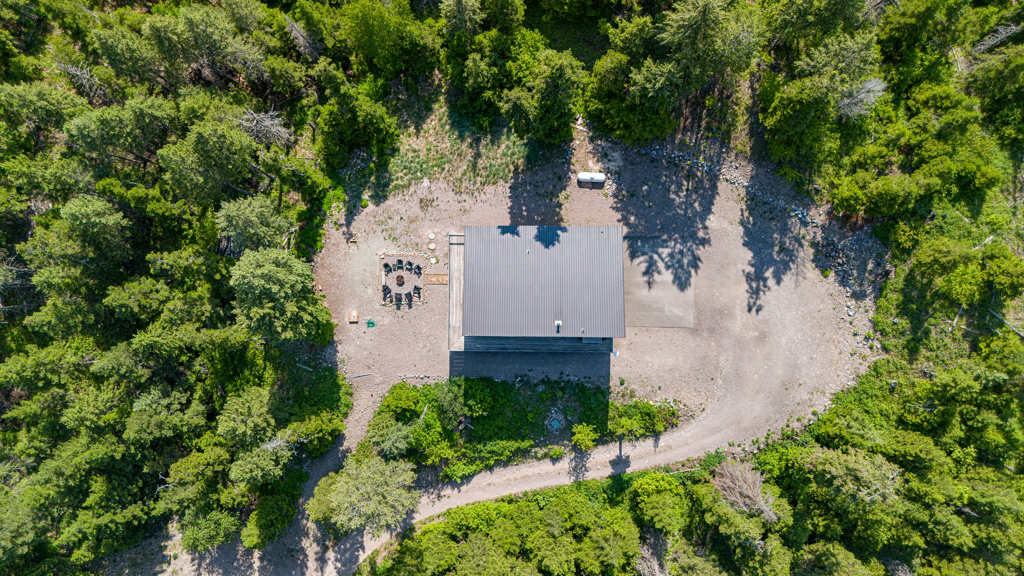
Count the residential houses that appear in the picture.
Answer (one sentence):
I count just 1 residential house.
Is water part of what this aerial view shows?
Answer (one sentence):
No, there is no water in the image.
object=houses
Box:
[463,225,626,338]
